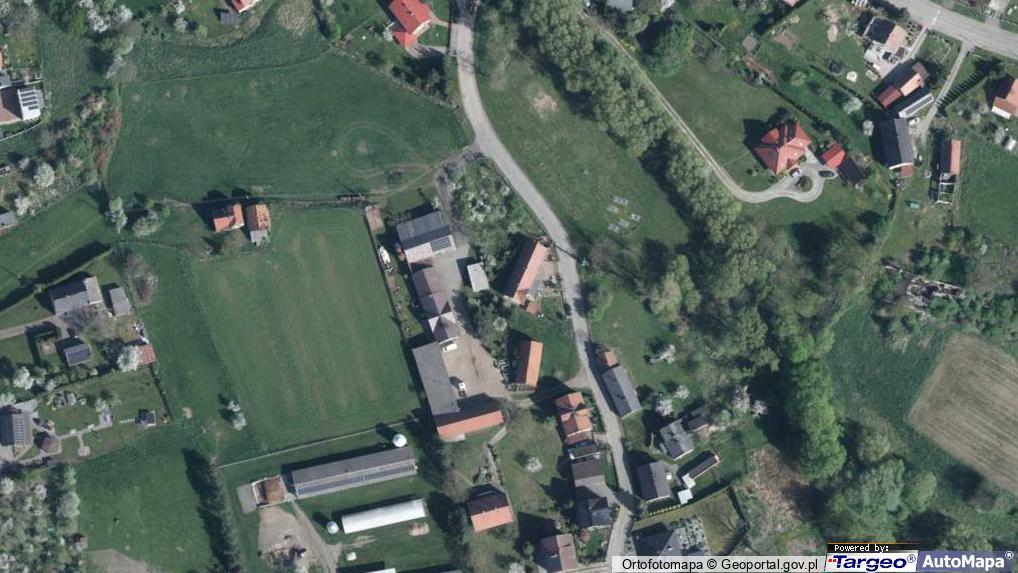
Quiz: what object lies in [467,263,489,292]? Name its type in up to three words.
shed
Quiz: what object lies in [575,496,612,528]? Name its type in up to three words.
house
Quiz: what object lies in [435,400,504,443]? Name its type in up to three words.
barn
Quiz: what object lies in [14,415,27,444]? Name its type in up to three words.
solar panel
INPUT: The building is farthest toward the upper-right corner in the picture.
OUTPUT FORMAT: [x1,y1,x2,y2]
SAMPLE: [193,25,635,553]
[989,74,1018,118]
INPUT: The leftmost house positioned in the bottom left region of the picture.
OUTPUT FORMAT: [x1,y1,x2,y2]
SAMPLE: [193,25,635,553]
[0,412,32,447]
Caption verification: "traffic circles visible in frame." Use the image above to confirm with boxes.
[738,150,838,203]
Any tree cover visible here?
Yes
